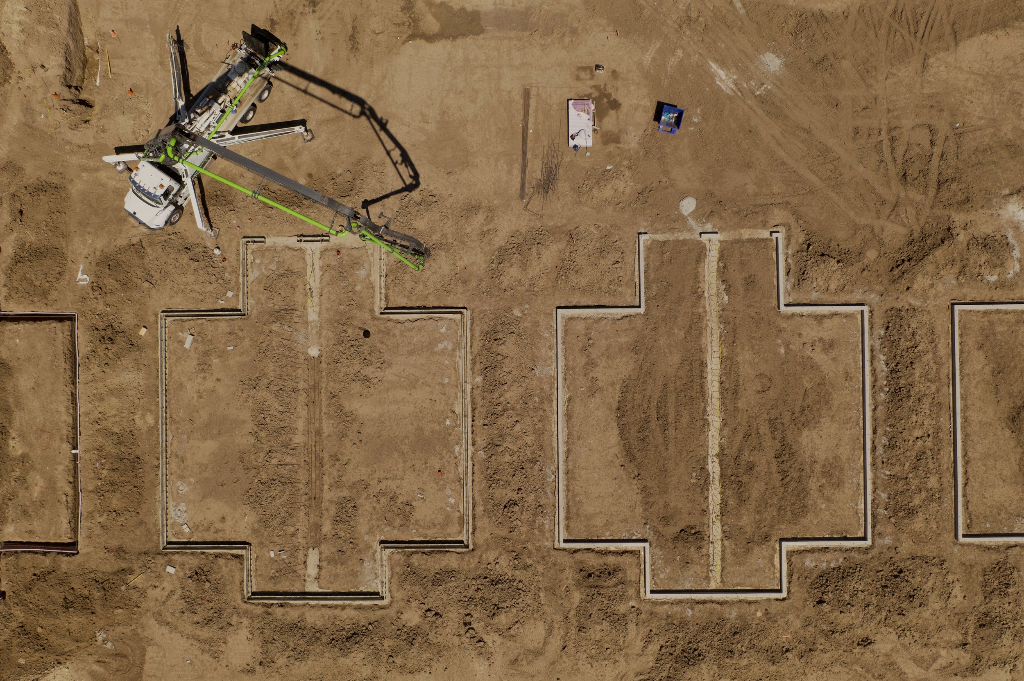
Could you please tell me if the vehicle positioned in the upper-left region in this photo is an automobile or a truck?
truck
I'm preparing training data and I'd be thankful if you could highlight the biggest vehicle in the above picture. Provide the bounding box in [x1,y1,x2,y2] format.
[100,23,435,270]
